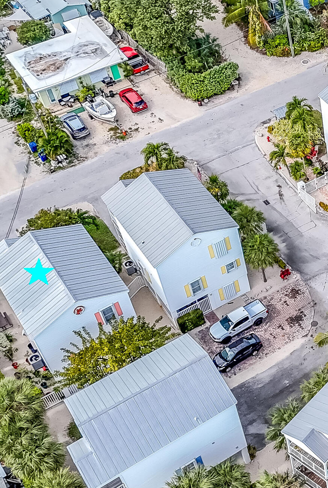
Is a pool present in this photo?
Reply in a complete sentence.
No, there's no pool here.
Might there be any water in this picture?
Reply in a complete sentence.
No, there is no water in the image.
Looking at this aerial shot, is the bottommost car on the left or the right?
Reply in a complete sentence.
The bottommost car appears in the right half of the scene.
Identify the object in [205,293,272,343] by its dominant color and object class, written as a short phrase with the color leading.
white truck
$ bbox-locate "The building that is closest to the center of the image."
[101,168,250,330]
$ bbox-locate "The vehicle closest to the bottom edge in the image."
[207,326,269,369]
